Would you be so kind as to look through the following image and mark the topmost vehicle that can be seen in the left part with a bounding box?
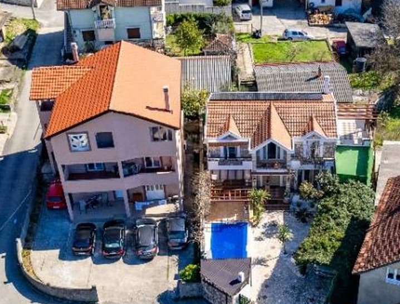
[44,177,67,207]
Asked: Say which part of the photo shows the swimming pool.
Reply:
bottom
